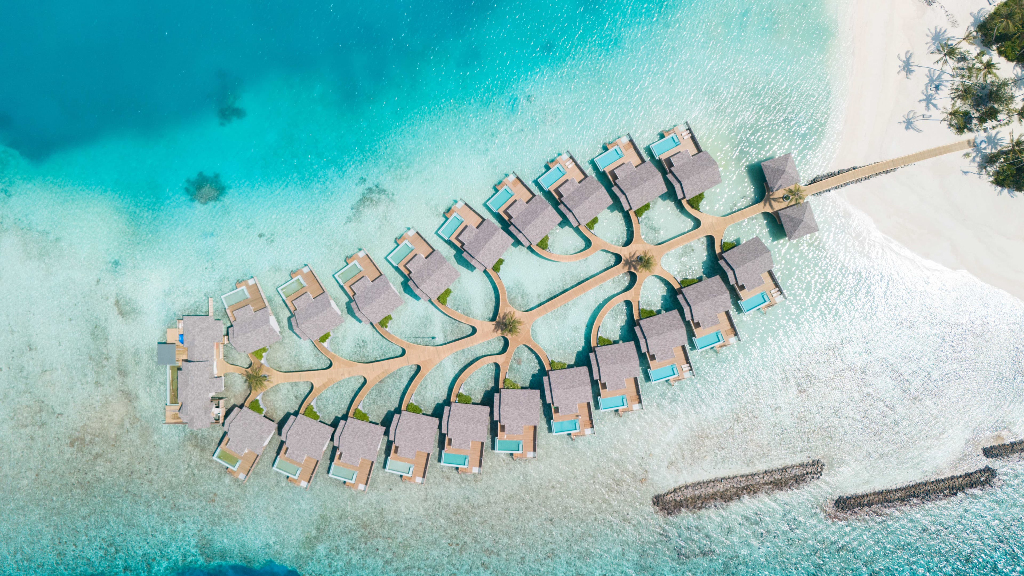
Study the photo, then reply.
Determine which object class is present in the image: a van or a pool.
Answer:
pool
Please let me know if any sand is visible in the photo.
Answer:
Yes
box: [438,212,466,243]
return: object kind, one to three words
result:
swimming pool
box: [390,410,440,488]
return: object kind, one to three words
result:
house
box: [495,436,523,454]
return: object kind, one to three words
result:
swimming pool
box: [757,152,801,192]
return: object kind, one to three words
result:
building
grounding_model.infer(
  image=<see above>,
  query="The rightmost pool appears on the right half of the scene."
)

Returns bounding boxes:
[736,290,769,314]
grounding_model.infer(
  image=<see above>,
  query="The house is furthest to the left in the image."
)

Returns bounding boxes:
[161,299,230,428]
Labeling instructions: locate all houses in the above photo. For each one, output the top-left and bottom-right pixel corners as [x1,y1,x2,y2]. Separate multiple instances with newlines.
[397,224,462,303]
[284,262,344,343]
[161,299,230,428]
[677,275,742,351]
[718,236,788,312]
[442,402,490,477]
[446,196,515,273]
[279,412,337,492]
[342,246,404,326]
[548,149,613,228]
[603,131,667,211]
[635,309,696,384]
[544,366,596,438]
[495,389,540,460]
[658,120,722,200]
[220,406,282,486]
[390,410,440,488]
[496,169,563,248]
[334,417,386,494]
[227,273,286,354]
[590,340,644,413]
